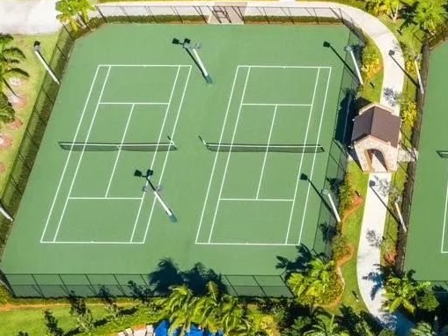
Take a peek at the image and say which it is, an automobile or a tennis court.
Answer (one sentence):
Looking from above, you can make out a tennis court.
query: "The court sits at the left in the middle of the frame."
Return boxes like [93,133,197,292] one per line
[0,22,223,297]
